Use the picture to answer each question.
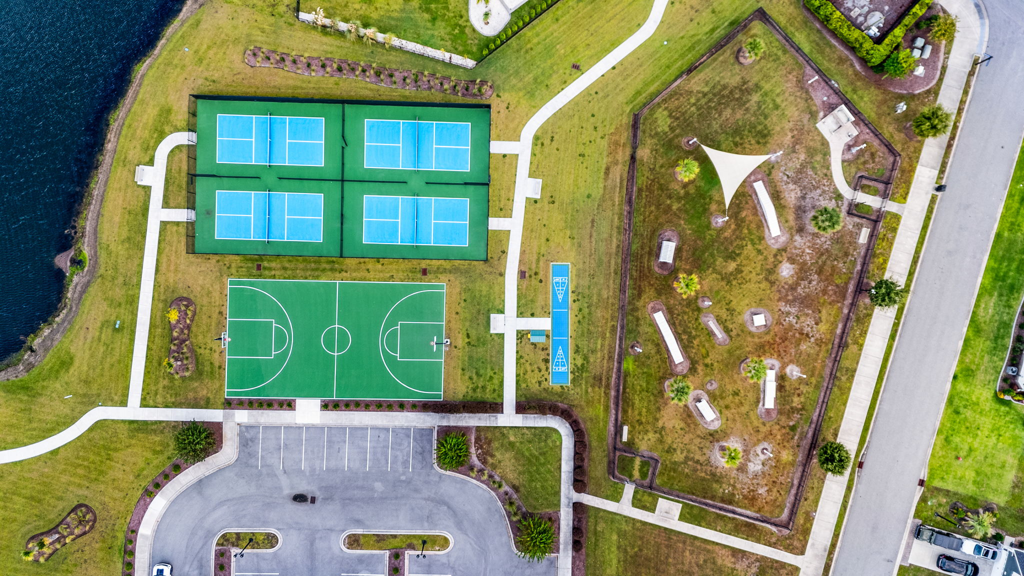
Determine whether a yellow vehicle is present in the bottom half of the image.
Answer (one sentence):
No, I can find no yellow vehicle in the bottom half of the image.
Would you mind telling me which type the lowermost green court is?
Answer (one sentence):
It looks like the lowermost green court is a basketball court.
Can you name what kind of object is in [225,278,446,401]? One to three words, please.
basketball court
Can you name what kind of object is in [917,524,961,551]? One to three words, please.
car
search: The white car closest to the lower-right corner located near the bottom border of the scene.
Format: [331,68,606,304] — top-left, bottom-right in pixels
[959,535,998,559]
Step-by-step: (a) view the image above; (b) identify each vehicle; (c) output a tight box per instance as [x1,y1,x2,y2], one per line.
[959,535,998,559]
[917,524,961,551]
[153,564,171,576]
[938,554,980,576]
